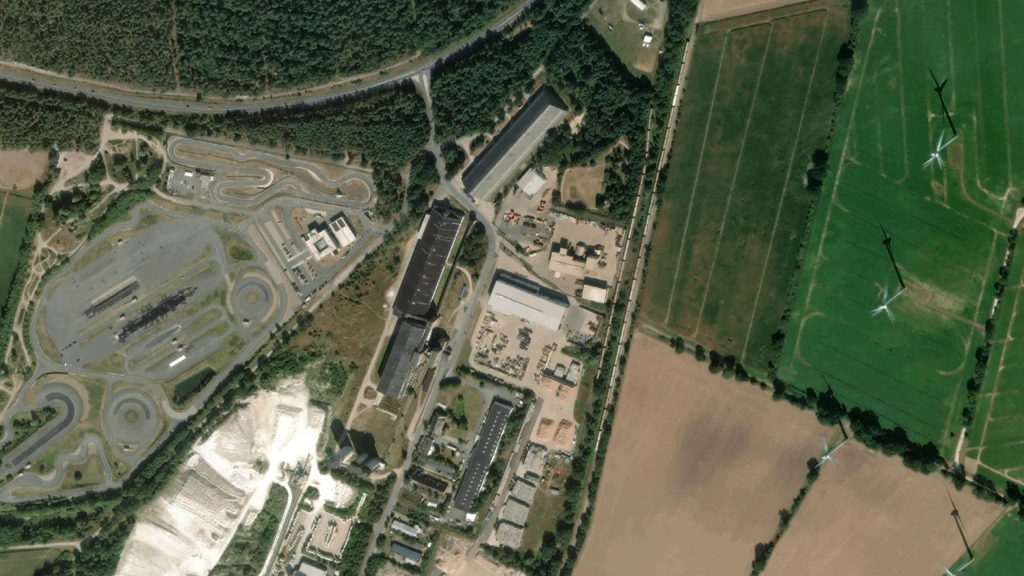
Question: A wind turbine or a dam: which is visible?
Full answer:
Visible in the photo is a wind turbine.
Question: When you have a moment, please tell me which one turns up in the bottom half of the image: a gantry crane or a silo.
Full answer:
What appears in the bottom half of the image is a silo.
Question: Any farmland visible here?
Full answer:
Yes, there's farmland in this view.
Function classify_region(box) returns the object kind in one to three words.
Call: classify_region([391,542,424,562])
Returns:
barn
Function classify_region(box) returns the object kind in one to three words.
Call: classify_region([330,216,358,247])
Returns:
building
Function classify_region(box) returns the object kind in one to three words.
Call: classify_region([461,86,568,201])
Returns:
building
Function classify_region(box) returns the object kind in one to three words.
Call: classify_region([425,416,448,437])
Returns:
house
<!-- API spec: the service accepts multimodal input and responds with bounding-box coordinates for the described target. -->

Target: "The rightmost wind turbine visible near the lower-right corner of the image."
[945,555,977,576]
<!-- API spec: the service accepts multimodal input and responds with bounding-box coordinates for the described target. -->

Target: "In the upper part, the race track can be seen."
[164,133,379,211]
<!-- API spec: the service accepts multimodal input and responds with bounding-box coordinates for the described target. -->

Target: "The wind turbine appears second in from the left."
[881,285,908,324]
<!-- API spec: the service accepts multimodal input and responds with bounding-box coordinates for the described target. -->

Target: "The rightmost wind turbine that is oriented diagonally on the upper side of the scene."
[933,130,959,165]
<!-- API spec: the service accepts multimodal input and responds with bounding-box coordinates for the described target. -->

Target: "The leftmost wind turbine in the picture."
[825,435,851,470]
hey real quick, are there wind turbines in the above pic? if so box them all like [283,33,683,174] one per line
[945,555,977,576]
[881,285,908,324]
[933,130,959,165]
[825,435,851,470]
